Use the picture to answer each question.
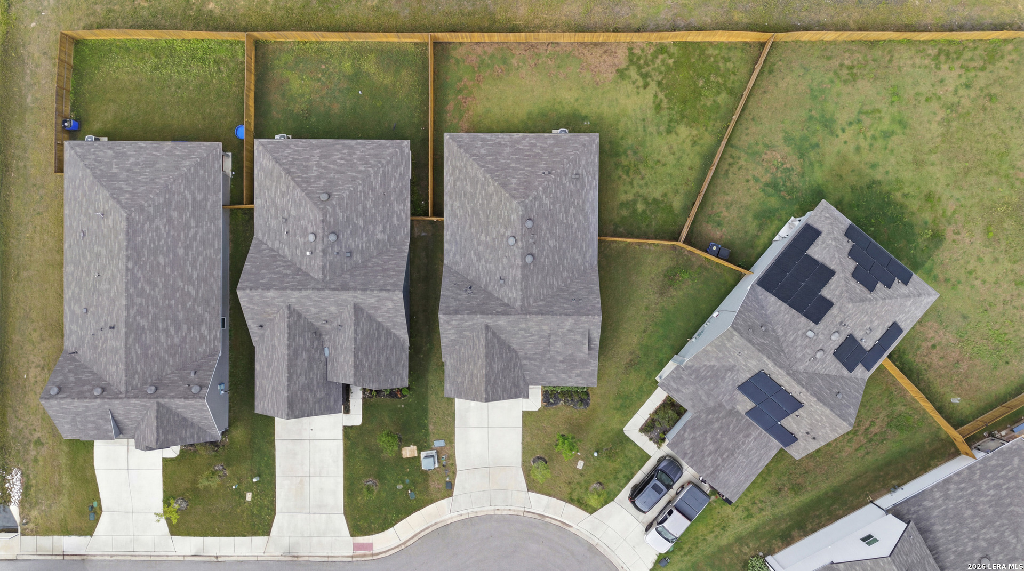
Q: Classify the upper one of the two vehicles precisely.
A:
automobile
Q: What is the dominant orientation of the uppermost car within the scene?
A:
diagonally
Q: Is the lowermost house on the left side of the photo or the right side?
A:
right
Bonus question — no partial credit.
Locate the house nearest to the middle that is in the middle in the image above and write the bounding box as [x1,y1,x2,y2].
[438,132,602,402]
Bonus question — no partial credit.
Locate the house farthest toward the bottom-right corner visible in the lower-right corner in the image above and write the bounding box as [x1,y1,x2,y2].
[767,435,1024,571]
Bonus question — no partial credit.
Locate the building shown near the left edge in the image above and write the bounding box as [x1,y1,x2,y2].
[40,140,232,451]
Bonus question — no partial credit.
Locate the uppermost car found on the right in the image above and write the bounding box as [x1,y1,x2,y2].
[626,454,683,512]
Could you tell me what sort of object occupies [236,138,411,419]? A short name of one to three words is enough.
house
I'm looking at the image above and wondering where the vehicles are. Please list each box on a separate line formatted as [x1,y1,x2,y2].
[643,482,708,553]
[626,454,683,512]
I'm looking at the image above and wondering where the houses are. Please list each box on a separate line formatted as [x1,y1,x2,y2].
[40,140,232,451]
[236,138,411,419]
[767,435,1024,571]
[438,132,602,402]
[658,199,940,503]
